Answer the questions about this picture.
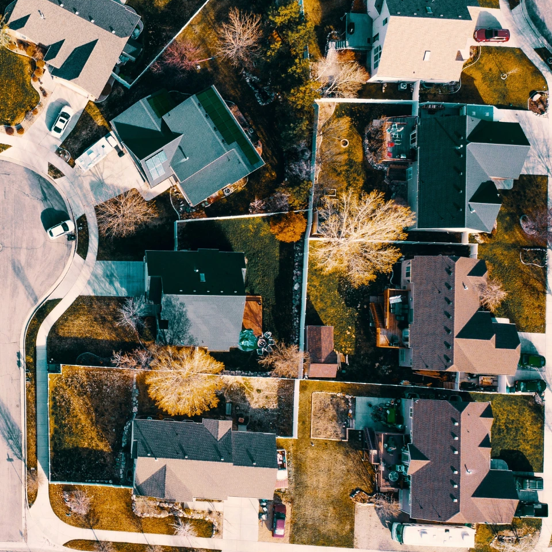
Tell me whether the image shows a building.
Yes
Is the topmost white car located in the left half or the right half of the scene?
left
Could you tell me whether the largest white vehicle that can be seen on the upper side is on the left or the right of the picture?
left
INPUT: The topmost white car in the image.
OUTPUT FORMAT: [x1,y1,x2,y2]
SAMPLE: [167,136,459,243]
[50,105,74,137]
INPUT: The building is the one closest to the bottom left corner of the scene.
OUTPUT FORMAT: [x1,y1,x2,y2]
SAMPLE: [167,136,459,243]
[133,417,278,502]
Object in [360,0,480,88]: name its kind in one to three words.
house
